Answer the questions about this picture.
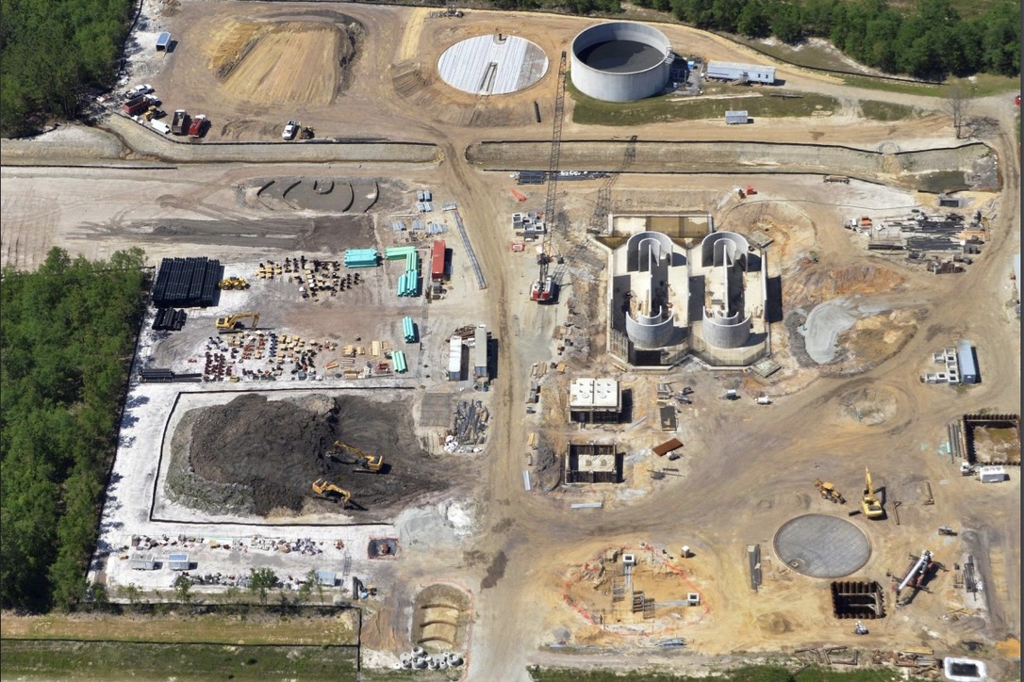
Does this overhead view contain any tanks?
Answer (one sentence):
Yes, there is a tank in the image.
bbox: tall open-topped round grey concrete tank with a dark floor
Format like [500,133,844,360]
[570,19,678,103]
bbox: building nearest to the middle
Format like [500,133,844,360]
[569,378,621,425]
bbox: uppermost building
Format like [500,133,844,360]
[669,49,719,95]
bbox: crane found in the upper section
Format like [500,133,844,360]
[530,50,565,296]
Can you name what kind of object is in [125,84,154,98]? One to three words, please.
vehicle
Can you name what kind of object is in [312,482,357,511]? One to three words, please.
work vehicle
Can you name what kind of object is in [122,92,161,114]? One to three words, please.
truck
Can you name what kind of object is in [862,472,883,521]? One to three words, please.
work vehicle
